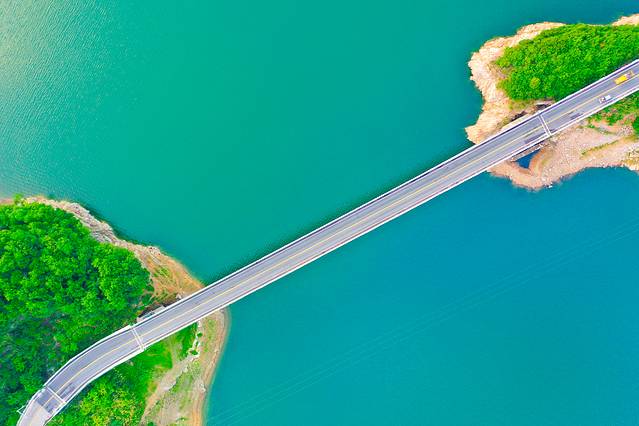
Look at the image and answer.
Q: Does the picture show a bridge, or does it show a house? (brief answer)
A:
bridge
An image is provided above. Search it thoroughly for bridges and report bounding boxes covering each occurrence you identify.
[31,112,553,415]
